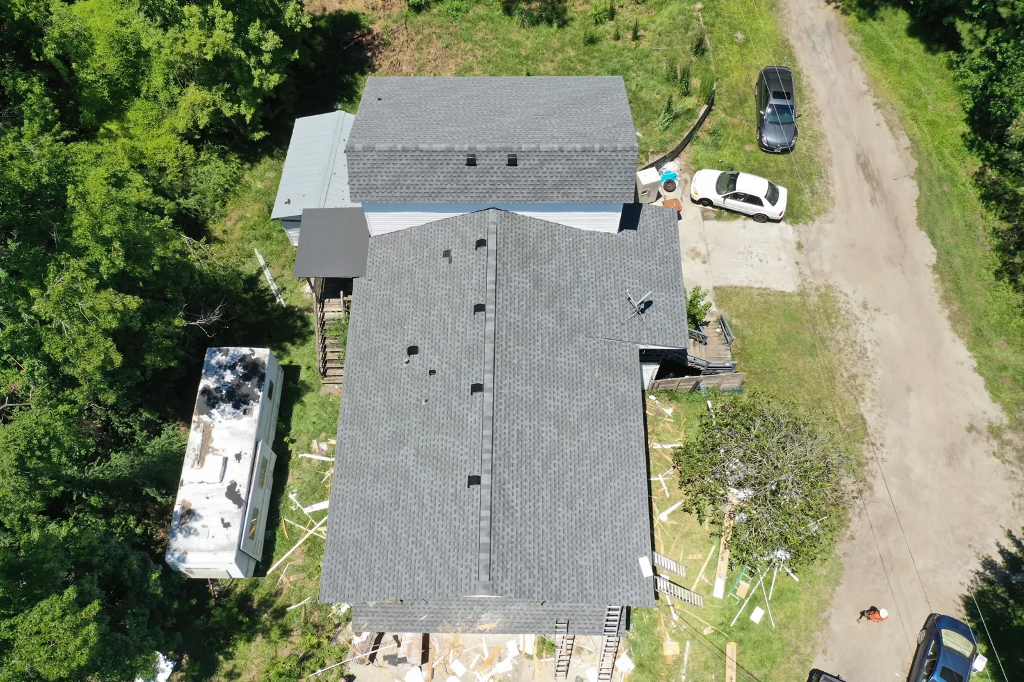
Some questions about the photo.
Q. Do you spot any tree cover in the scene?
Yes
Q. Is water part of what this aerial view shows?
No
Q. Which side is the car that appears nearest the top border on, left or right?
right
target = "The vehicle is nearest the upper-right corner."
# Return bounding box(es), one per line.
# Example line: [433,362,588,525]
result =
[753,67,803,150]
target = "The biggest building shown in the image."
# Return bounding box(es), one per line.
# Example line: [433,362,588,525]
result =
[294,76,689,635]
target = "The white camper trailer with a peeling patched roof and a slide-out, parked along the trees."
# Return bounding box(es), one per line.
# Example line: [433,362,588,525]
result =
[170,349,284,613]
